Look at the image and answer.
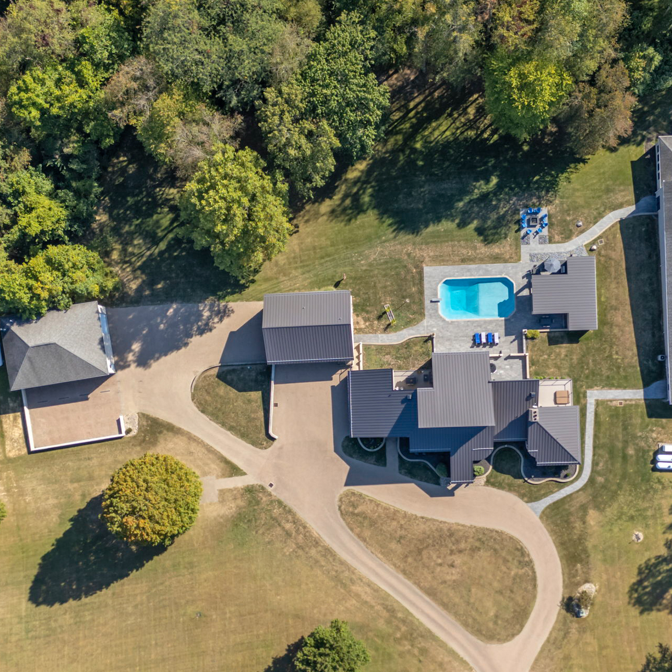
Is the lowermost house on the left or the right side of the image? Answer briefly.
right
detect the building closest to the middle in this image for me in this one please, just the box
[262,290,355,365]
